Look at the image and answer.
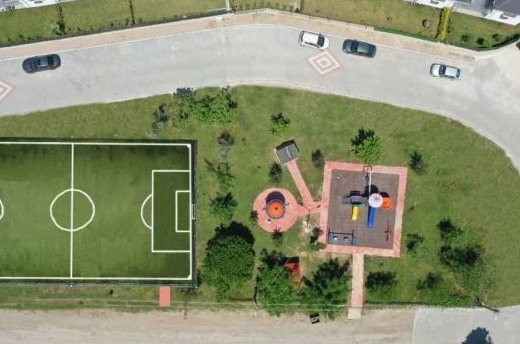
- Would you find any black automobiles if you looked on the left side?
Yes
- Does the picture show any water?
No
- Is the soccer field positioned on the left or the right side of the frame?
left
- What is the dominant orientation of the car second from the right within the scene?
horizontally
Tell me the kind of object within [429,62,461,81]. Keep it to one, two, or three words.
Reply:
car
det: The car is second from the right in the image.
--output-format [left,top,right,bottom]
[342,38,378,59]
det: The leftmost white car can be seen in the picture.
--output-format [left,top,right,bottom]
[297,30,330,51]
